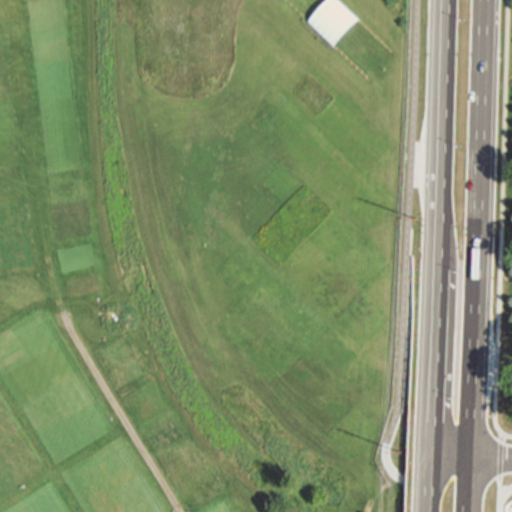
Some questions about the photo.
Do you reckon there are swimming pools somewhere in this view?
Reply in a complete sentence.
No, there is no swimming pool in the image.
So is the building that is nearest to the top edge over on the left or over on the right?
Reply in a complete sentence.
The building that is nearest to the top edge sits on the right side.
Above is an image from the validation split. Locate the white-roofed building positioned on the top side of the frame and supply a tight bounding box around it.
[308,0,359,47]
